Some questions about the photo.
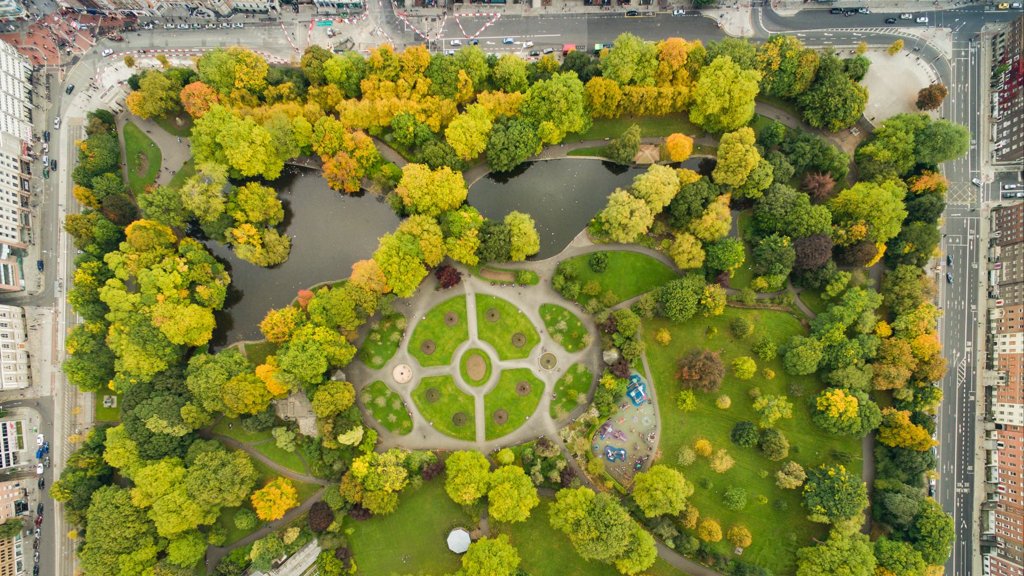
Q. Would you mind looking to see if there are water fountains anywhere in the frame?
Yes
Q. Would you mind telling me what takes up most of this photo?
trees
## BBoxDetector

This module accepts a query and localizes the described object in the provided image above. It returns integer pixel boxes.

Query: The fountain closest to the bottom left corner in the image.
[392,364,412,383]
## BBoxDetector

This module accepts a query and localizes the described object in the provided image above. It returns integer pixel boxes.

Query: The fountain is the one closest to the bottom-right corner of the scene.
[539,352,558,371]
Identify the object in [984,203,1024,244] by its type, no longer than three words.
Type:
house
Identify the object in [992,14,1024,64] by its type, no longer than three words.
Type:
house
